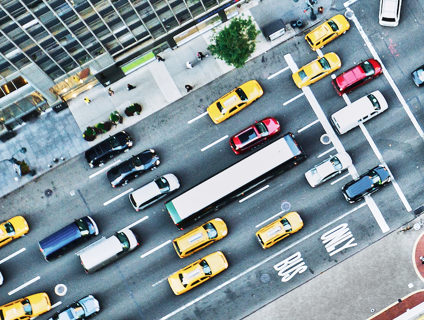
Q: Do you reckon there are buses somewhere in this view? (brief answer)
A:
Yes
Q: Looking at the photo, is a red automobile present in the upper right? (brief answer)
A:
Yes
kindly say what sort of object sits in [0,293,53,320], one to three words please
car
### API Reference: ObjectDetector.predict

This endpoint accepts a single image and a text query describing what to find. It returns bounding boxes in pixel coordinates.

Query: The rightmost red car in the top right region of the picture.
[332,59,382,98]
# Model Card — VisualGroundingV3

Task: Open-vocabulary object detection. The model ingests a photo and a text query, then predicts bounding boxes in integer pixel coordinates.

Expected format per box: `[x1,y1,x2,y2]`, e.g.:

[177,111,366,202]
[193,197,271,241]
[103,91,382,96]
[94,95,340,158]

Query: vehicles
[129,174,181,214]
[230,115,281,155]
[107,149,160,189]
[47,295,101,320]
[207,82,263,125]
[304,152,353,189]
[169,252,229,296]
[75,229,140,273]
[173,219,229,260]
[38,217,100,263]
[332,59,382,98]
[290,50,342,90]
[85,131,134,169]
[257,215,305,252]
[331,90,390,133]
[379,0,400,27]
[304,15,353,55]
[0,293,53,320]
[342,165,392,204]
[174,131,306,226]
[0,216,30,249]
